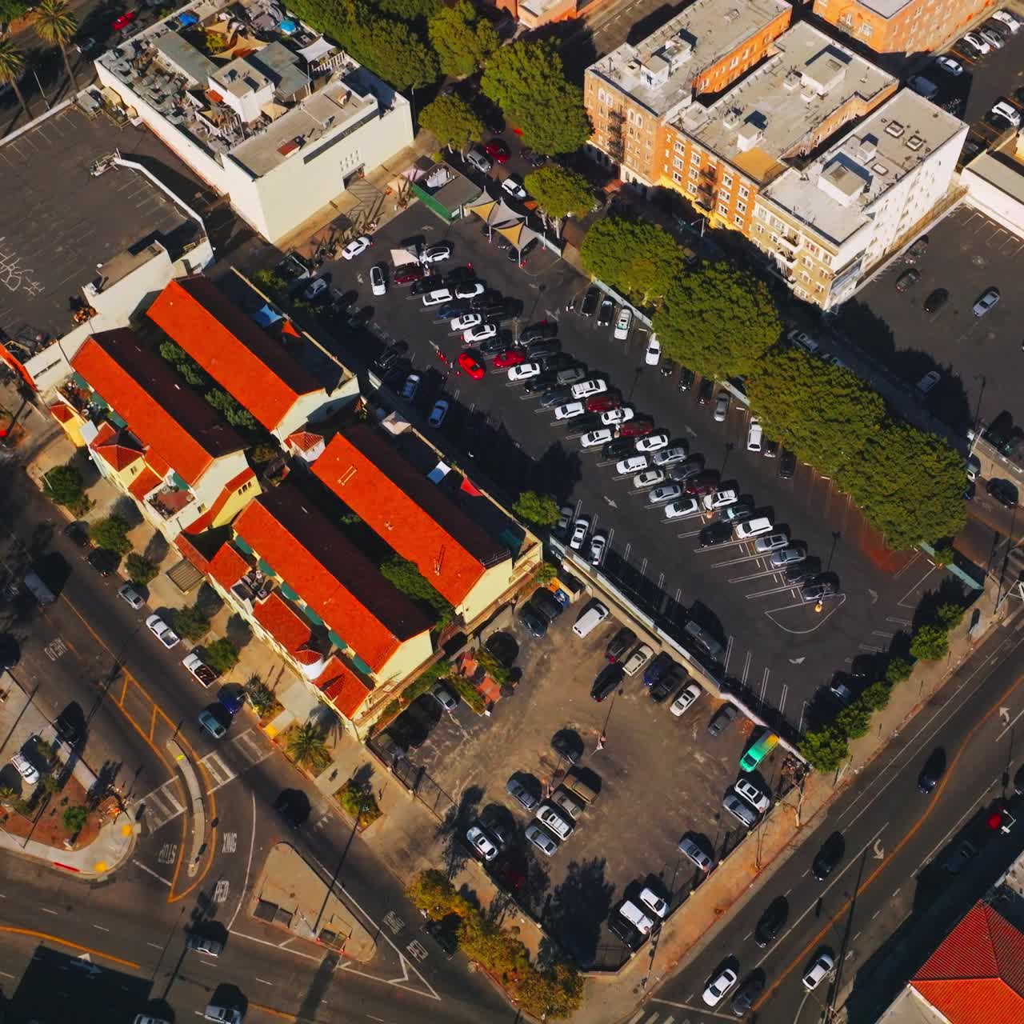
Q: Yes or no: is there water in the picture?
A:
No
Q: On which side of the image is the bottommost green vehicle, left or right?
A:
right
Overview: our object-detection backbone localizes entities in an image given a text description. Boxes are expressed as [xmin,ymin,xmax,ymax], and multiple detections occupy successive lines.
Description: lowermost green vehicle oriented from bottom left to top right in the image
[742,732,777,772]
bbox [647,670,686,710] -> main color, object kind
black vehicle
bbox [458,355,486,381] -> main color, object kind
red car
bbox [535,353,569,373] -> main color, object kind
black car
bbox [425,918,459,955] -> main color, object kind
black car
